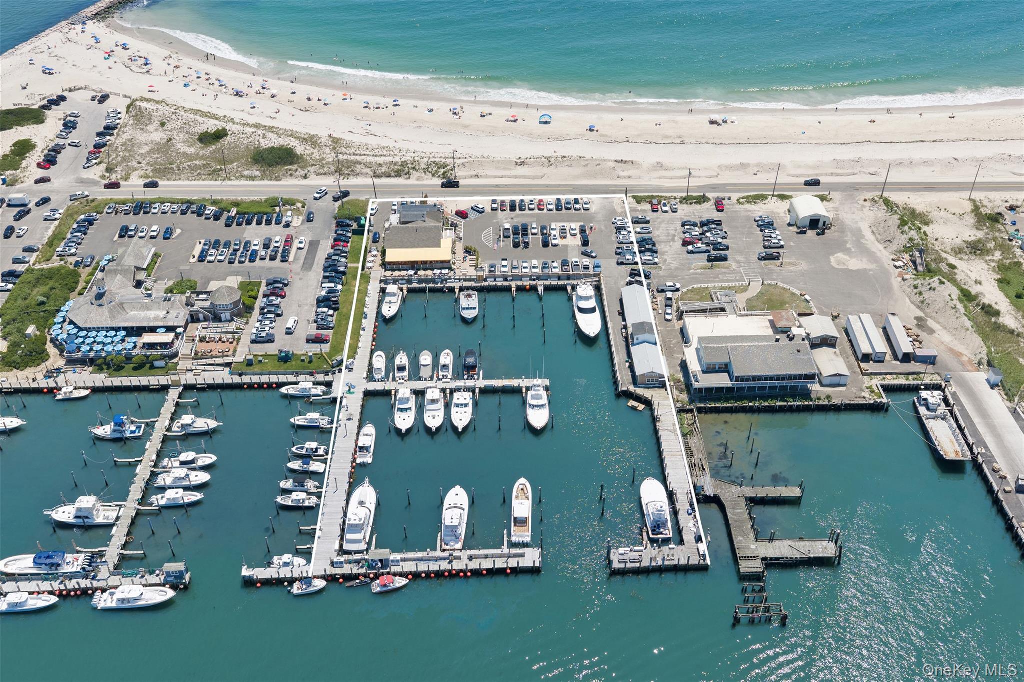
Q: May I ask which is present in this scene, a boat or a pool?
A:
boat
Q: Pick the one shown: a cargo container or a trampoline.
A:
cargo container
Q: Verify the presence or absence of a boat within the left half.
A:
Yes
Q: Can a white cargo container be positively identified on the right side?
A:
Yes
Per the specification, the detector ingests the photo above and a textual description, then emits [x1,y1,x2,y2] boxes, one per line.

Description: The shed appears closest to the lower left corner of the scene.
[163,564,186,582]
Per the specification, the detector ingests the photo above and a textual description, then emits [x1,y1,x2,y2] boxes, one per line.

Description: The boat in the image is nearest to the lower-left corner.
[0,594,59,616]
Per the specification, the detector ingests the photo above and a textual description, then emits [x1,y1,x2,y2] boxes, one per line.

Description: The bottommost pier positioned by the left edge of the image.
[0,571,188,597]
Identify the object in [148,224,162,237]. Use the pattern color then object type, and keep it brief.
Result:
white vehicle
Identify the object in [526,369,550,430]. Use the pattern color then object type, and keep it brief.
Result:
white boat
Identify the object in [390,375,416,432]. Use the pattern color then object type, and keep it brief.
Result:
white boat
